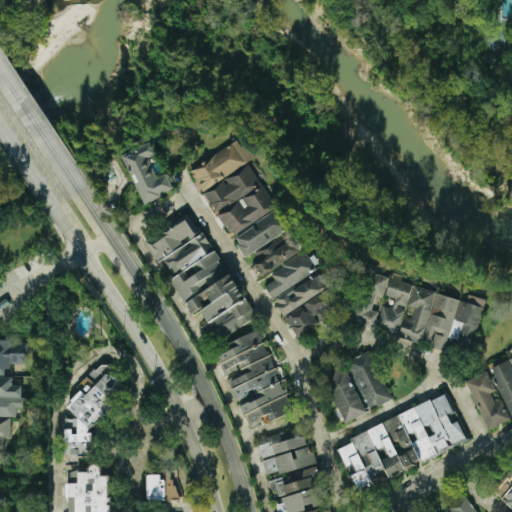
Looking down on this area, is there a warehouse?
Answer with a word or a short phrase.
No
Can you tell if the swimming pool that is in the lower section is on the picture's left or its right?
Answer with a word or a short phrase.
left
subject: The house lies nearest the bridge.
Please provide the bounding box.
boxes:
[122,143,172,202]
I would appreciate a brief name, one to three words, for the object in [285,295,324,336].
house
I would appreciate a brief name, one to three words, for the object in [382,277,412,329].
house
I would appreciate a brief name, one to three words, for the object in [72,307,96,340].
swimming pool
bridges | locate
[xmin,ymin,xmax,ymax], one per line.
[0,50,49,150]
